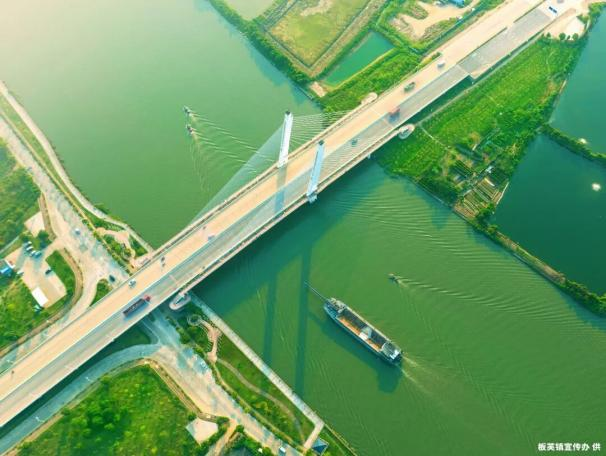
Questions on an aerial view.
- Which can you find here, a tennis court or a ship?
ship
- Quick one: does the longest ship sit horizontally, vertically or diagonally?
diagonally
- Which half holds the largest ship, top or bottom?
bottom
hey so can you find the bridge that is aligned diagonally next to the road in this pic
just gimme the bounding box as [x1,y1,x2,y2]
[0,57,465,426]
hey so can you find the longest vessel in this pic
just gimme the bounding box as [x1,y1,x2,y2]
[302,278,403,364]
